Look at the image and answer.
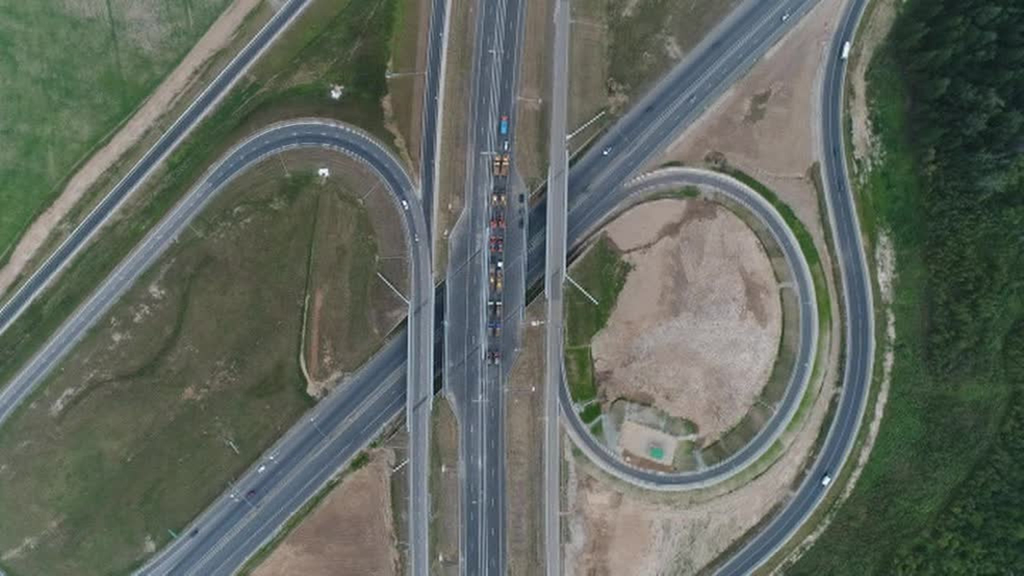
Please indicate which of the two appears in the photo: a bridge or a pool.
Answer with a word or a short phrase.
bridge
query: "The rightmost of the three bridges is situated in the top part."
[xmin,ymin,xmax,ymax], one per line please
[544,149,569,299]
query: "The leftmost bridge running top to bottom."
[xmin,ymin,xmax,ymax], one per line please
[407,277,435,433]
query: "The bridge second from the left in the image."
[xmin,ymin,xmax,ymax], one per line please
[444,195,526,399]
